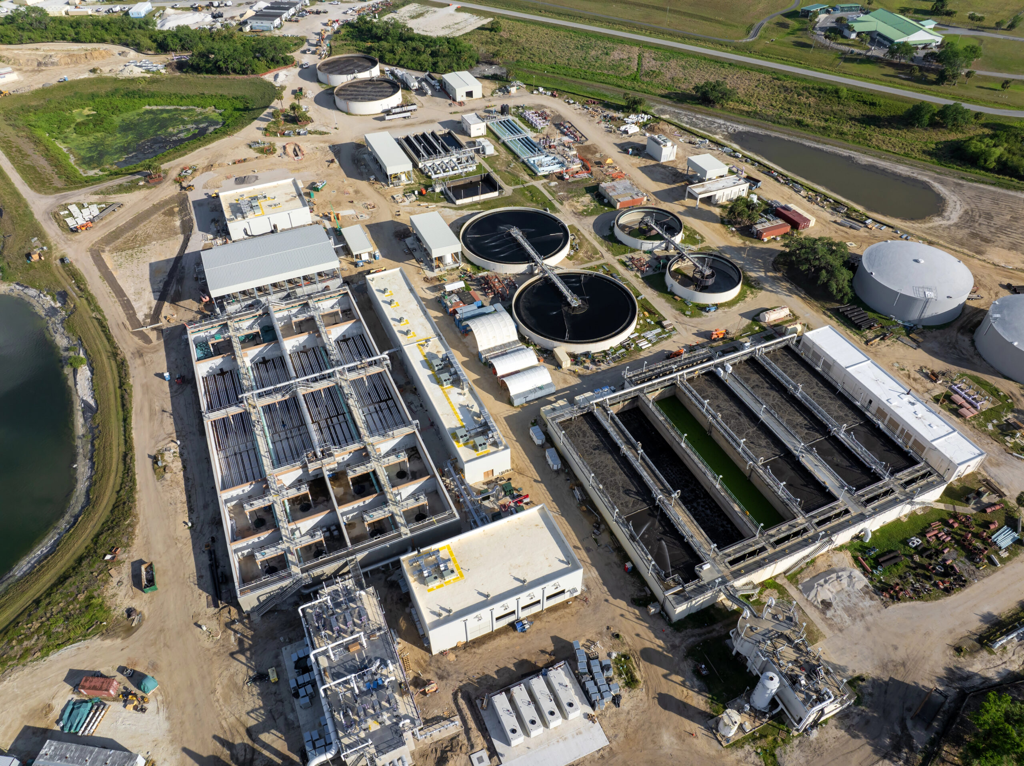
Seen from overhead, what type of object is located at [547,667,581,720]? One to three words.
storage tank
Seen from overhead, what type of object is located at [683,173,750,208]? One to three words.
building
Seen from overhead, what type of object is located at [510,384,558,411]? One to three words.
shipping container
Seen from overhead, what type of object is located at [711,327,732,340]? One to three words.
vehicle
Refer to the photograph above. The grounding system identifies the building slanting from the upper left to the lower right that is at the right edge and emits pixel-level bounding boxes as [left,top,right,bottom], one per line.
[800,325,987,479]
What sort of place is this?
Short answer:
industrial area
